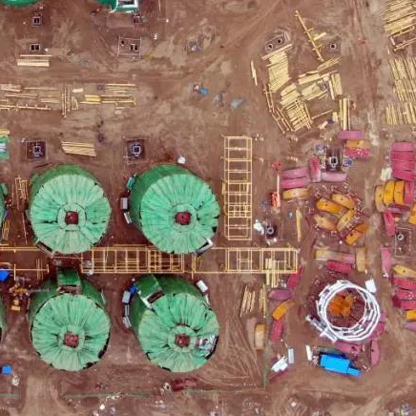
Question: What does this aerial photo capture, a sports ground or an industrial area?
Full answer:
The picture captures an industrial area.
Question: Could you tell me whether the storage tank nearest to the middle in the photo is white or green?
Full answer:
The storage tank nearest to the middle is green.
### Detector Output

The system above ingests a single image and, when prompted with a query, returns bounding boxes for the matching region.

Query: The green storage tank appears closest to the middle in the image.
[121,165,221,256]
